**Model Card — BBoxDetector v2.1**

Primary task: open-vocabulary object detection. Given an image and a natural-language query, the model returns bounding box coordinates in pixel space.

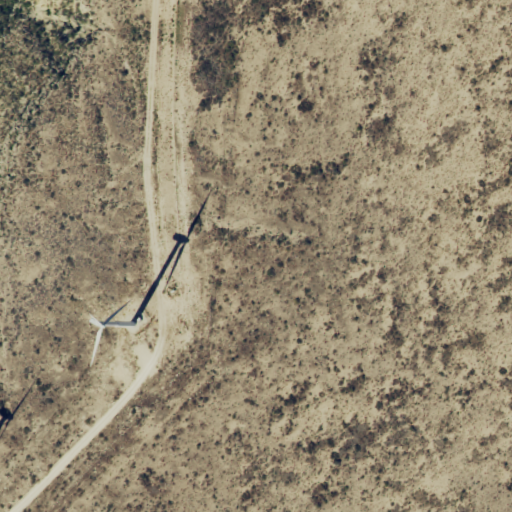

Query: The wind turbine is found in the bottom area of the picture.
[90,300,138,366]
